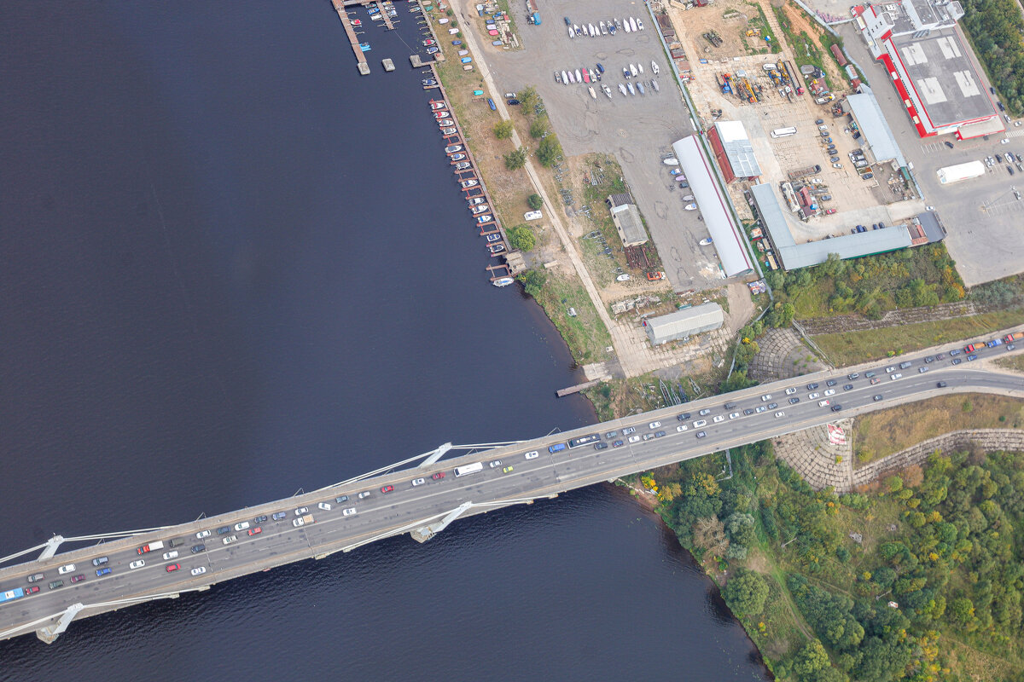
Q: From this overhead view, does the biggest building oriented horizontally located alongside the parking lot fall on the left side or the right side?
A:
right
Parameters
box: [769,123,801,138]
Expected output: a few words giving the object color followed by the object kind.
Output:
white vehicle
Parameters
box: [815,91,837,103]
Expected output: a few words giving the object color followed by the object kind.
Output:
white vehicle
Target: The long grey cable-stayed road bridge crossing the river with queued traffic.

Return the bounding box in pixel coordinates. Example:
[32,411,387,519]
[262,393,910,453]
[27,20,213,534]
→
[0,368,850,648]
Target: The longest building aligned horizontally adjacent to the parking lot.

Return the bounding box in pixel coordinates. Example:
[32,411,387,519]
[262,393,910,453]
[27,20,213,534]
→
[745,183,913,274]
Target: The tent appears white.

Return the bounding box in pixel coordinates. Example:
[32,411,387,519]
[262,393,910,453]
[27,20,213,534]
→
[932,160,987,188]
